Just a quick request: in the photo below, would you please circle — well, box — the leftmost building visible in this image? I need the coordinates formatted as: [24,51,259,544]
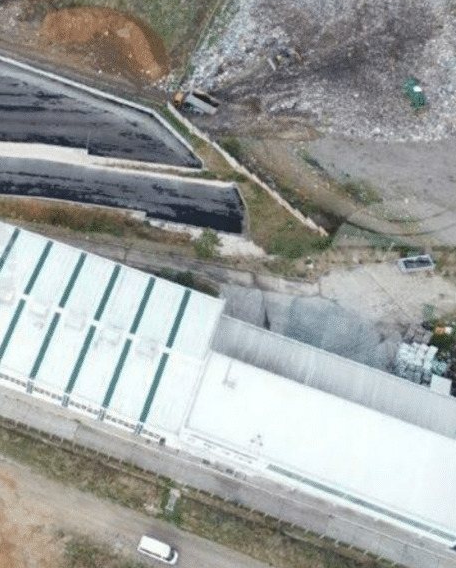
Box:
[0,222,224,452]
